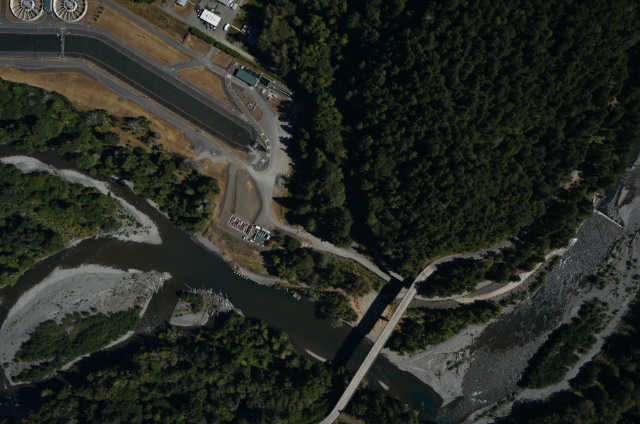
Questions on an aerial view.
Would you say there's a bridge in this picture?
Yes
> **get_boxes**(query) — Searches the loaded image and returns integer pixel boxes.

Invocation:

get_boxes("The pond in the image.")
[0,26,258,151]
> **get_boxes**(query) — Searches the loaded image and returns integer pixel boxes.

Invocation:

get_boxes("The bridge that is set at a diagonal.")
[334,269,428,413]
